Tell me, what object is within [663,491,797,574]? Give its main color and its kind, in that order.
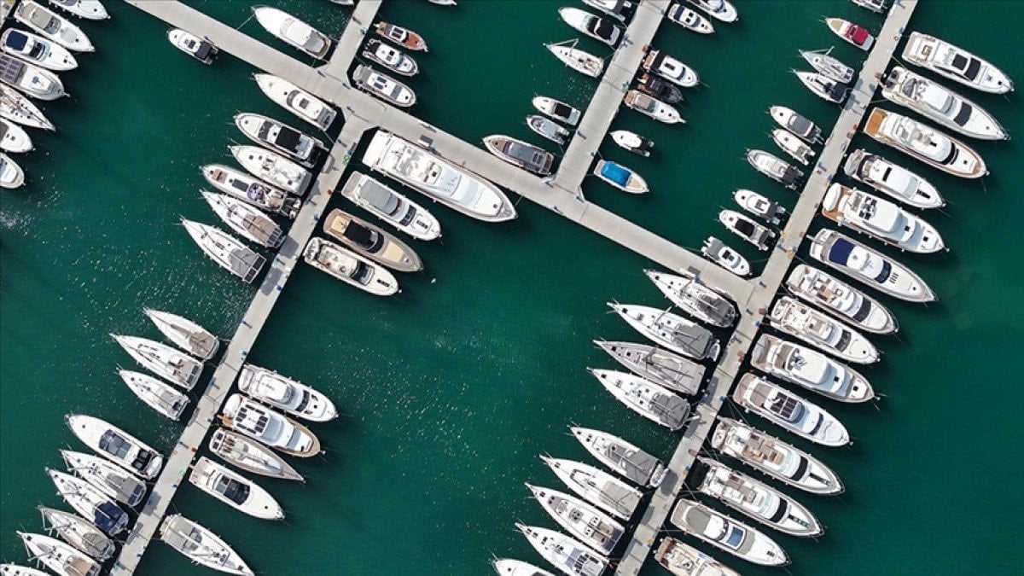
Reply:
white boat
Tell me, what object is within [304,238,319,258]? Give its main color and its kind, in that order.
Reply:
white boat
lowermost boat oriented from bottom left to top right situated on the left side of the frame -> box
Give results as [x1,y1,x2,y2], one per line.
[146,456,163,478]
